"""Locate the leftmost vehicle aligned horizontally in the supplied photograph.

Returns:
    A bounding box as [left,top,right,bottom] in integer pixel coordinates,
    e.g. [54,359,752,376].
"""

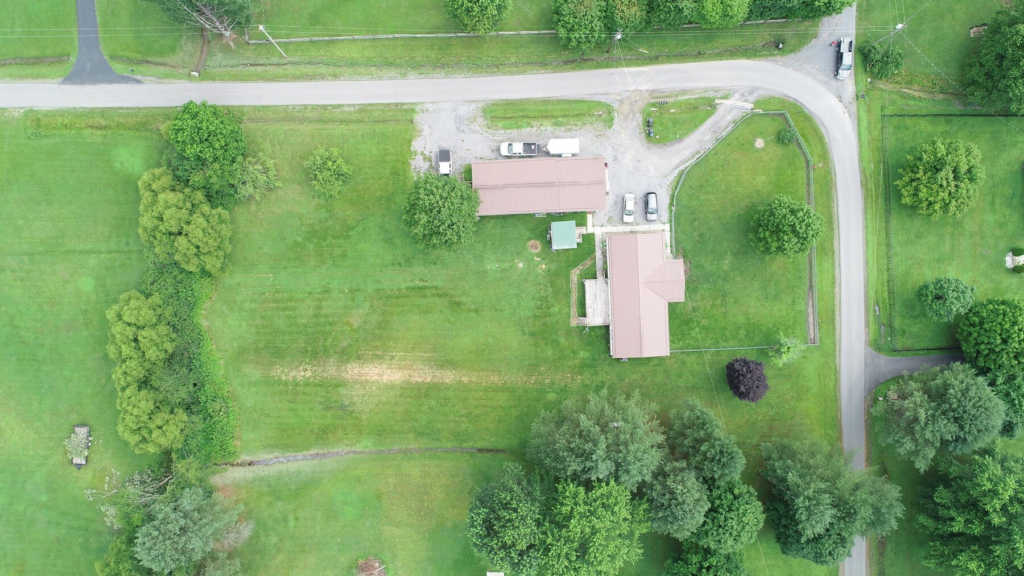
[499,142,539,157]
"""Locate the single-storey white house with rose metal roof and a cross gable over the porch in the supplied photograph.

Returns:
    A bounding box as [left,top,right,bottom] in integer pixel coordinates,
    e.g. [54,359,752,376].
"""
[606,232,686,359]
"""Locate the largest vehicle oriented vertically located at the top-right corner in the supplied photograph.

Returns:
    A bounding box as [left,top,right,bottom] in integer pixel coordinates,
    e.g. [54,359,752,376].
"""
[834,39,852,80]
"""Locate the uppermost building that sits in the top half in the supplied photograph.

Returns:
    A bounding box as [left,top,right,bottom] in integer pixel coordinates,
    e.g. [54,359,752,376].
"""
[472,156,606,217]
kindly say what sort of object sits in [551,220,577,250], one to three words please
shed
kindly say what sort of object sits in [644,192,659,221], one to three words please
car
